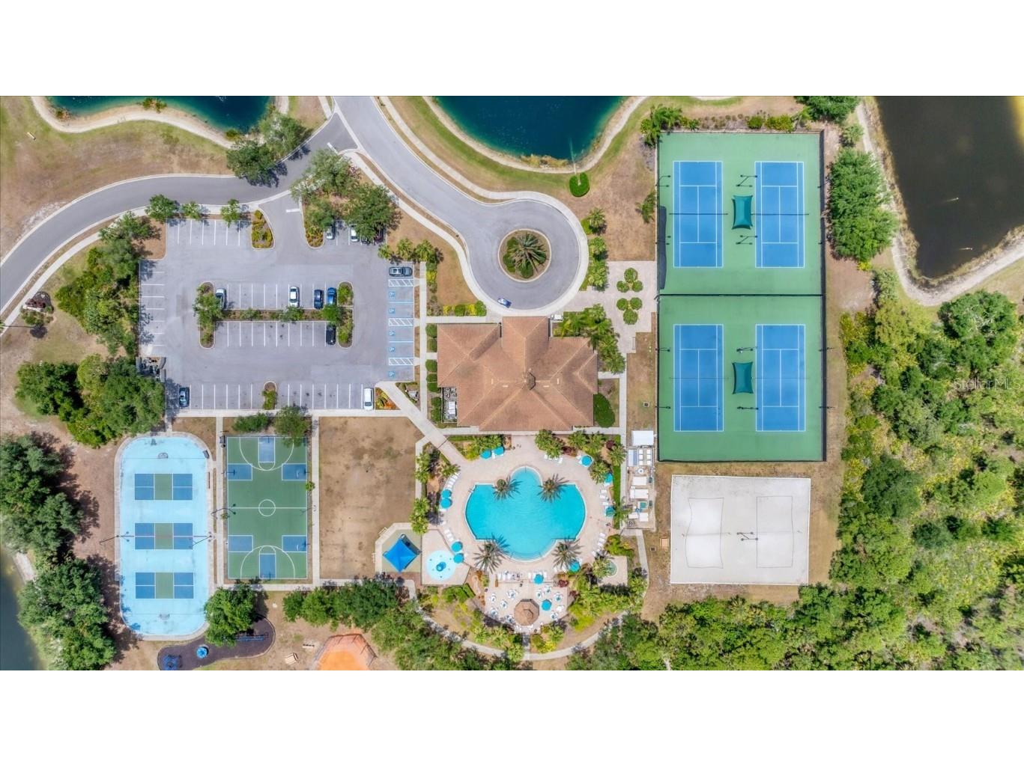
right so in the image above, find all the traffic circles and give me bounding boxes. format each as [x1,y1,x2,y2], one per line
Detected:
[471,198,582,311]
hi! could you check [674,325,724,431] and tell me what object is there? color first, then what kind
blue tennis court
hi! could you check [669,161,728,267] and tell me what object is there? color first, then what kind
blue tennis court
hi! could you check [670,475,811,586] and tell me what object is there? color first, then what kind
white sports court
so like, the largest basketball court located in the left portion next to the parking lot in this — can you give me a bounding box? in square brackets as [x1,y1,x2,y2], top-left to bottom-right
[225,436,309,581]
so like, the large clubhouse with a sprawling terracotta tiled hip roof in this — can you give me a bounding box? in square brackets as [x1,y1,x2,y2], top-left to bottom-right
[437,316,598,431]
